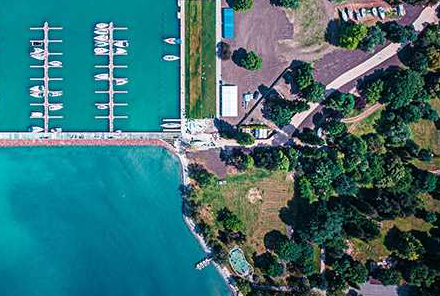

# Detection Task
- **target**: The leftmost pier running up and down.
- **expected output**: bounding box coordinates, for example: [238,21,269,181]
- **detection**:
[30,22,63,131]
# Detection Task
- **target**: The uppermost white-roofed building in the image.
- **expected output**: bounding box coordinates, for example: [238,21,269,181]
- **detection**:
[220,86,238,116]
